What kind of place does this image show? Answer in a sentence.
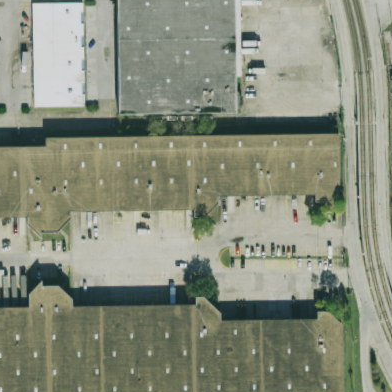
This image shows an industrial area.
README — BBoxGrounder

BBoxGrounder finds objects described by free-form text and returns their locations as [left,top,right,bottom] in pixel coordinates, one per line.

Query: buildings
[0,281,344,392]
[0,134,340,238]
[118,0,242,116]
[32,2,86,109]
